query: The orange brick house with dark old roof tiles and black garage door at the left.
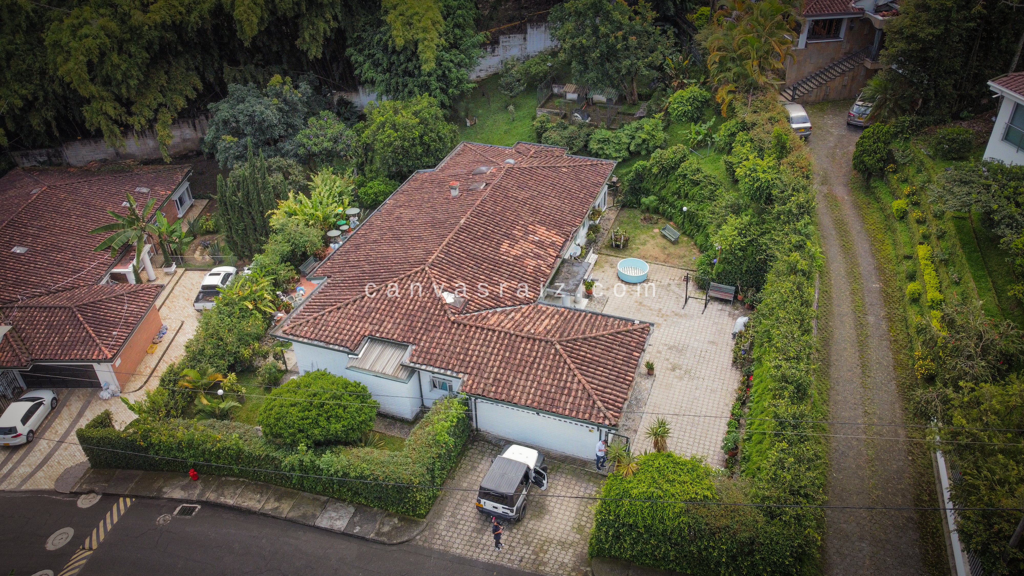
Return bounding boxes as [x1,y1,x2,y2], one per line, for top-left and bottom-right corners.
[0,167,201,399]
